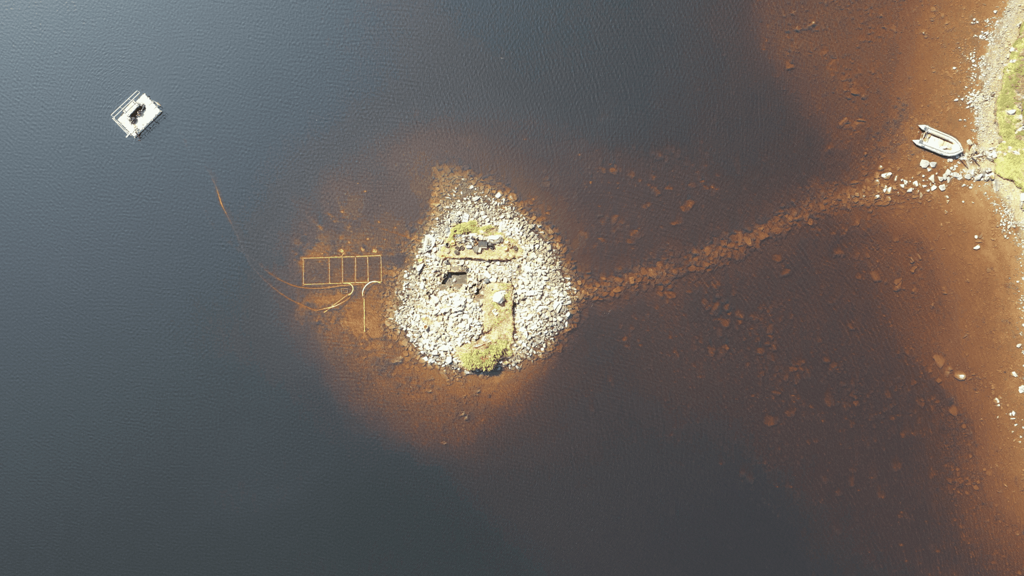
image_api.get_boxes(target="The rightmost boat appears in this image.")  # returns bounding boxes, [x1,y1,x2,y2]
[912,124,965,156]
